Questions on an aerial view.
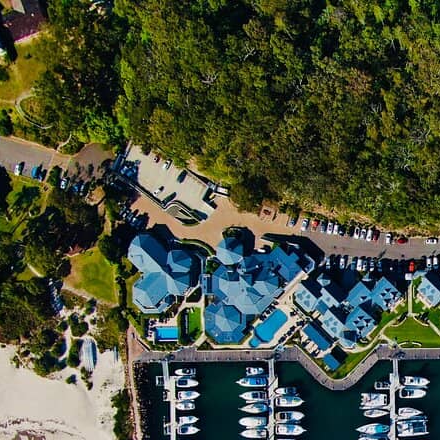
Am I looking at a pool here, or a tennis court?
pool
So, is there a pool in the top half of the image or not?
No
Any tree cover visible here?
Yes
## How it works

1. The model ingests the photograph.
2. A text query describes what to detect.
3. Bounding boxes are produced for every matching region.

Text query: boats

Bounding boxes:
[246,367,262,375]
[402,376,431,386]
[177,379,198,388]
[275,412,304,423]
[399,389,427,398]
[275,424,307,435]
[360,393,387,406]
[398,407,423,417]
[238,403,269,413]
[238,391,269,400]
[179,416,198,424]
[397,421,428,436]
[375,381,390,389]
[276,396,305,407]
[364,409,389,418]
[239,429,268,438]
[174,368,197,375]
[235,377,268,387]
[177,391,200,399]
[177,426,201,434]
[175,403,196,410]
[238,418,268,427]
[355,423,390,434]
[274,388,300,396]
